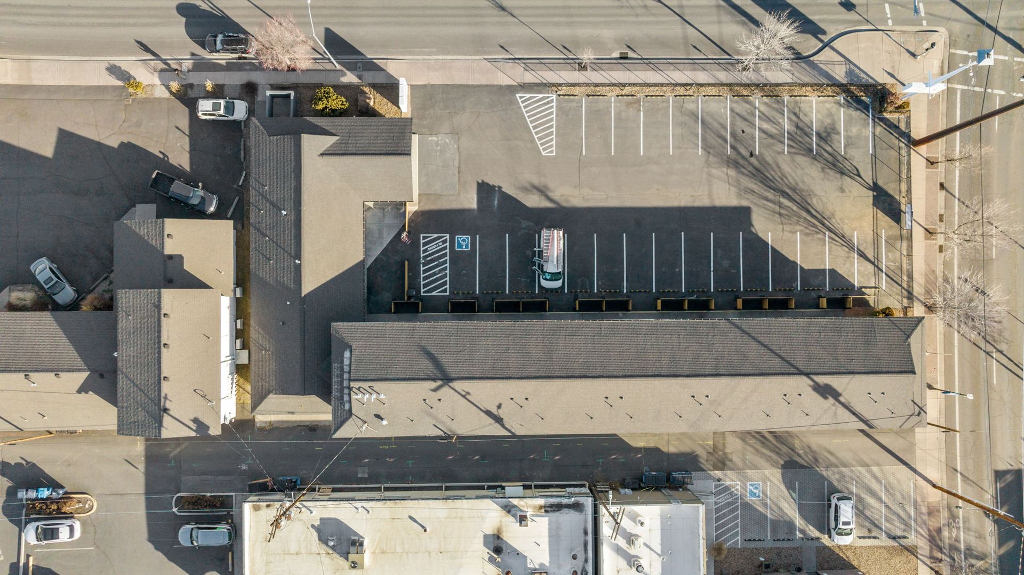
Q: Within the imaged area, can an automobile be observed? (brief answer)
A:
Yes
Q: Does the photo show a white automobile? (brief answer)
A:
Yes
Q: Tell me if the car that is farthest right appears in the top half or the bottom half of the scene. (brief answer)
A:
bottom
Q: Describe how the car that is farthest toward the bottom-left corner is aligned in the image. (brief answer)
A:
from left to right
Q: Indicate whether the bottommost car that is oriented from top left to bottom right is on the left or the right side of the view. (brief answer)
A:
left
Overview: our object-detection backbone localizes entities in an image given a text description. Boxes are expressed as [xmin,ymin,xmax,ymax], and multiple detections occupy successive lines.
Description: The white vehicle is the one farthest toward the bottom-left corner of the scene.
[27,520,81,545]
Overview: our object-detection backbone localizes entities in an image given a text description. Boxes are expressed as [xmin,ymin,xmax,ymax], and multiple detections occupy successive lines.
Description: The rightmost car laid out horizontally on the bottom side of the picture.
[180,523,233,548]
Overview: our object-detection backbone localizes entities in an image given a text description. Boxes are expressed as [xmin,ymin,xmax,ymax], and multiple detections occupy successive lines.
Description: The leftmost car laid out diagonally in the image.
[32,257,75,306]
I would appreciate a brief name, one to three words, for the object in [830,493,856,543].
car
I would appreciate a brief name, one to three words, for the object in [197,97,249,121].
car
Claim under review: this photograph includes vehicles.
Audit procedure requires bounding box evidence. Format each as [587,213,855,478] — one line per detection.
[149,169,218,213]
[32,257,75,306]
[197,97,249,121]
[830,493,856,543]
[205,30,257,56]
[27,520,81,545]
[180,523,233,548]
[531,229,565,288]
